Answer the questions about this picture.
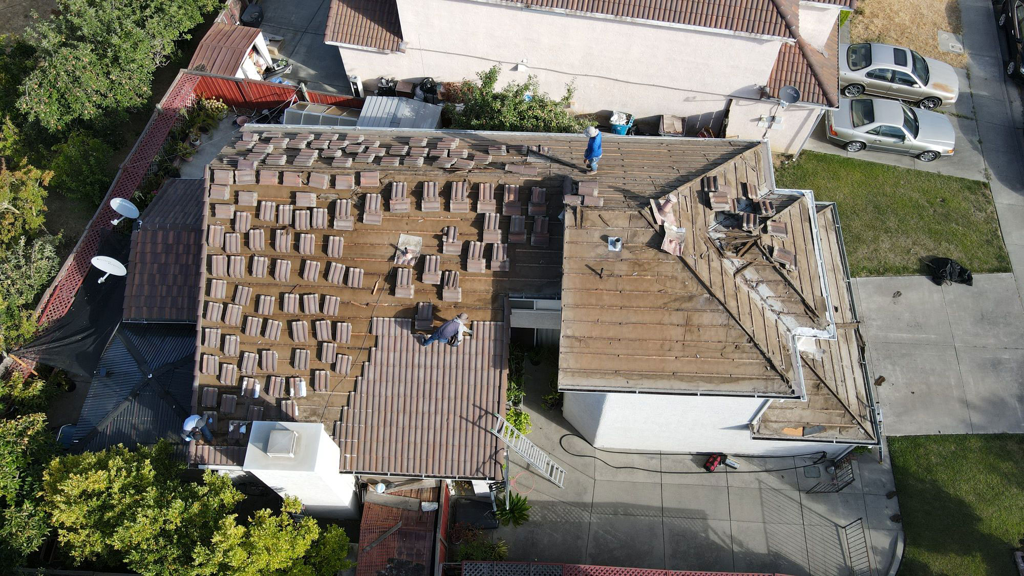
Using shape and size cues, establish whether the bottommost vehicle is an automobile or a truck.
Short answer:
automobile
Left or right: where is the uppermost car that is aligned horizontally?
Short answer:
right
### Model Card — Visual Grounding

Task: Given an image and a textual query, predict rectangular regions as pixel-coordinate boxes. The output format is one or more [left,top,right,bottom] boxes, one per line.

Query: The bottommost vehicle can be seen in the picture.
[821,95,960,159]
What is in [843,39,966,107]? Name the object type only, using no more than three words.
car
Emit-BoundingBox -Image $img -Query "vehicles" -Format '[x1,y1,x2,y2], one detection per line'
[1000,0,1024,84]
[821,95,960,159]
[843,39,966,107]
